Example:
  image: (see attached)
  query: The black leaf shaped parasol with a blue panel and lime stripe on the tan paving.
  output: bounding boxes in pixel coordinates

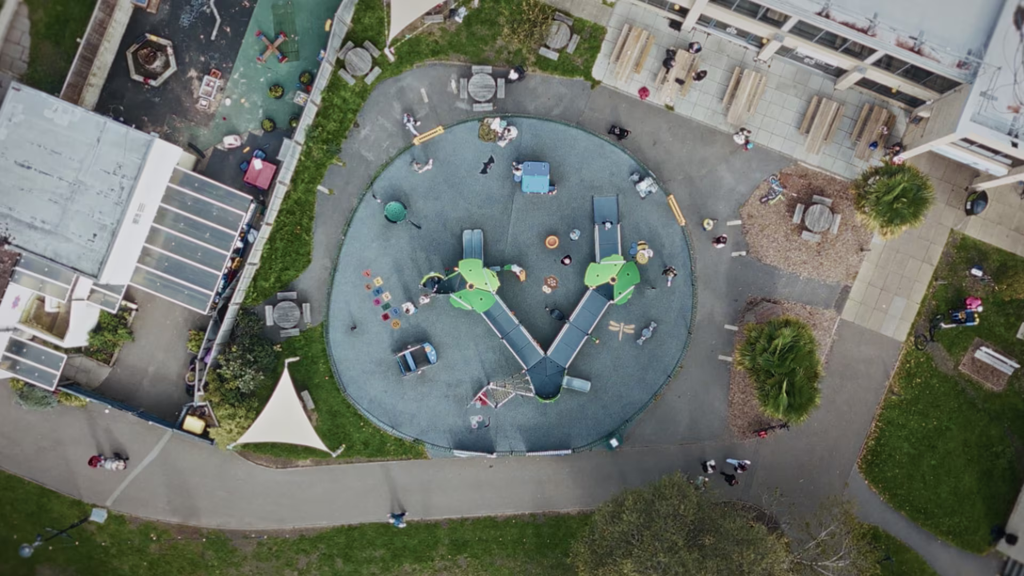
[960,188,986,218]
